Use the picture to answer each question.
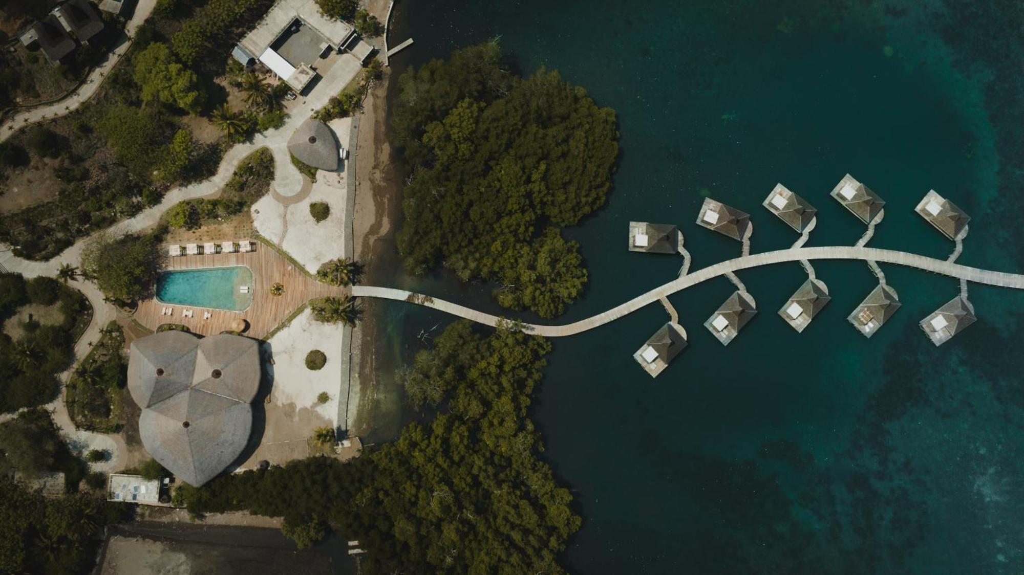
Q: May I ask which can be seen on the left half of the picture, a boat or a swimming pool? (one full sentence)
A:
What appears on the left half of the picture is a swimming pool.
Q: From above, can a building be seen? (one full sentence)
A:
Yes, the frame does contain a building.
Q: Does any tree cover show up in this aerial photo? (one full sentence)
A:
Yes, tree cover shows up in the scene.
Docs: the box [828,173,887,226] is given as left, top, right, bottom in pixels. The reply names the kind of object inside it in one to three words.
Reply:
house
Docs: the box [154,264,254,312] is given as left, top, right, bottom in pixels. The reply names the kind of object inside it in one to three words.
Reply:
swimming pool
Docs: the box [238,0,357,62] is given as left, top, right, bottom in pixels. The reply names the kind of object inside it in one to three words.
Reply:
building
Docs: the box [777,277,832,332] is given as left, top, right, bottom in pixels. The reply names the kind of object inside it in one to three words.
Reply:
house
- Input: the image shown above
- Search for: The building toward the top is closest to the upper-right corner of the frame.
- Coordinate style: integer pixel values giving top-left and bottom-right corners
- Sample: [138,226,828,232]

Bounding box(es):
[912,189,972,242]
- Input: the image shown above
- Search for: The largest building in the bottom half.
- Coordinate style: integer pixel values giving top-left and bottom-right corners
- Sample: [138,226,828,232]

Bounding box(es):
[127,330,260,488]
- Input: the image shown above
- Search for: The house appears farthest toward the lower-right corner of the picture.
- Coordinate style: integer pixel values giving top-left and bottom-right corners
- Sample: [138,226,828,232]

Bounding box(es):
[918,296,978,346]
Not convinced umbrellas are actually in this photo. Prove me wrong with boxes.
[231,319,244,332]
